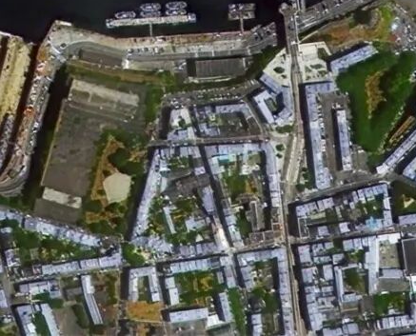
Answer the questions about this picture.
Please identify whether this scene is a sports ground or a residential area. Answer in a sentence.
The area seen from above is a residential area.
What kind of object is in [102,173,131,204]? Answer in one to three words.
playground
